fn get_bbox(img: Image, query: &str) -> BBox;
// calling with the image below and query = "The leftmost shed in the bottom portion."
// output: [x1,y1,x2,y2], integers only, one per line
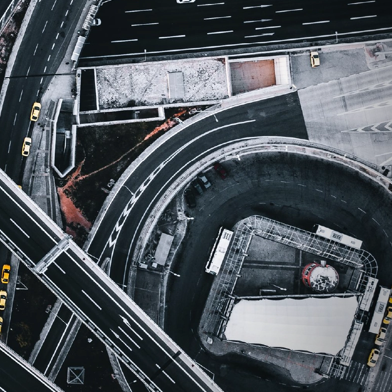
[149,231,174,266]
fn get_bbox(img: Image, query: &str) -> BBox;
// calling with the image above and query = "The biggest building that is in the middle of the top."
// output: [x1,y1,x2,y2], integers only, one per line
[79,53,295,117]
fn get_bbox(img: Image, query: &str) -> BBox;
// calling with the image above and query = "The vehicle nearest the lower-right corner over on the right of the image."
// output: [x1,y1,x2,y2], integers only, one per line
[365,346,379,367]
